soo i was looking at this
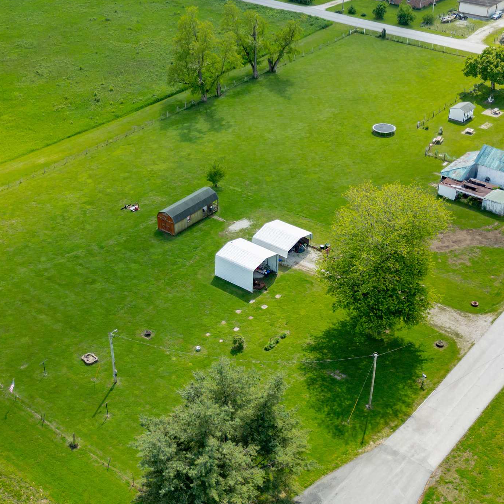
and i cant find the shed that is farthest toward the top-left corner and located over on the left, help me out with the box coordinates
[154,187,220,236]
